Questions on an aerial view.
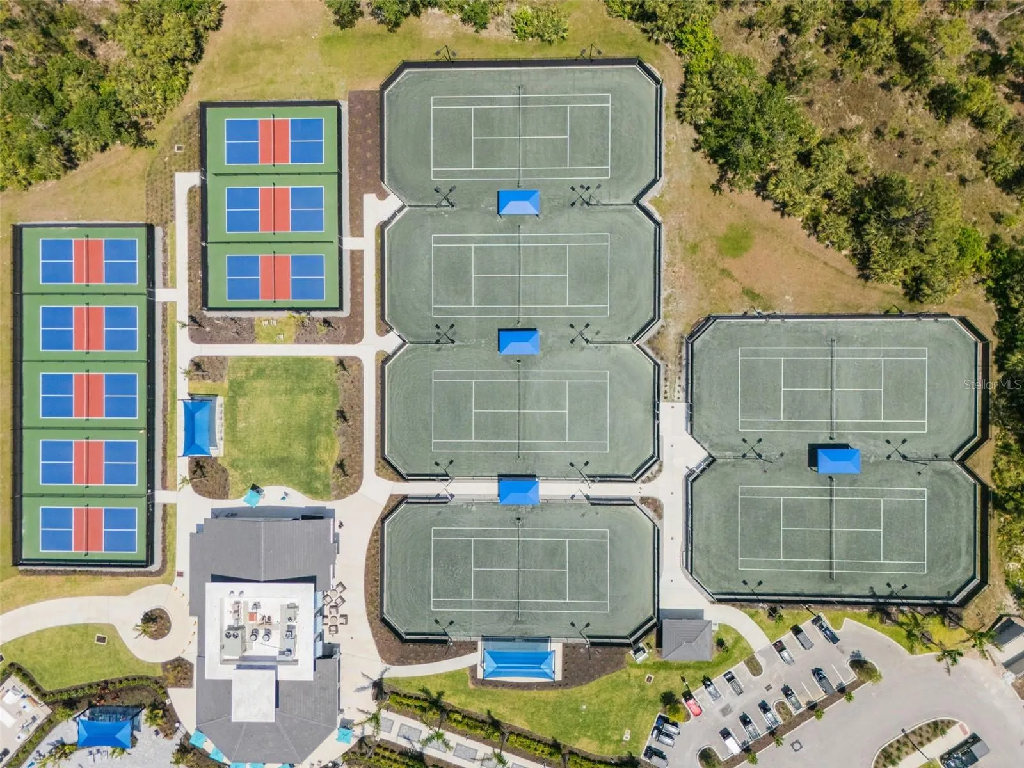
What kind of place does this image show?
sports ground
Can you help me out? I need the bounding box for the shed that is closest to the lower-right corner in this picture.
[994,643,1024,677]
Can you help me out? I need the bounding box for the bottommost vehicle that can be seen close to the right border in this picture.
[942,739,989,768]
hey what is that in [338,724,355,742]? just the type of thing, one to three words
umbrella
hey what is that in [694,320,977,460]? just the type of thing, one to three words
tennis court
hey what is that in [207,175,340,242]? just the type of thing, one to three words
sports court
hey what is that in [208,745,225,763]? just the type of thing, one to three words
umbrella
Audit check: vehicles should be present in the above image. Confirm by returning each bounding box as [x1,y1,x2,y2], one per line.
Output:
[942,739,989,768]
[741,718,760,741]
[703,678,721,701]
[660,716,679,736]
[722,731,741,755]
[684,693,703,716]
[775,644,795,666]
[792,627,814,649]
[725,673,744,696]
[759,704,779,727]
[814,672,835,695]
[655,727,675,747]
[817,622,839,644]
[783,688,803,711]
[648,747,668,768]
